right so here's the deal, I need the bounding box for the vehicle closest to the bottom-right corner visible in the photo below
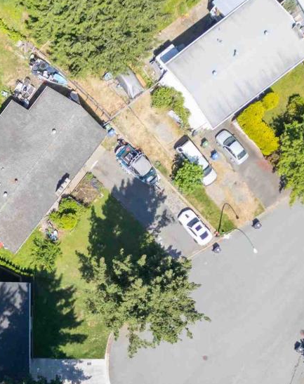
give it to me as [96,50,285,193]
[173,204,214,250]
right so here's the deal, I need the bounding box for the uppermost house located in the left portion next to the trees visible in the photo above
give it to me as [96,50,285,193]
[0,86,106,255]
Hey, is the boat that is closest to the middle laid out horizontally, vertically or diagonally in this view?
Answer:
diagonally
